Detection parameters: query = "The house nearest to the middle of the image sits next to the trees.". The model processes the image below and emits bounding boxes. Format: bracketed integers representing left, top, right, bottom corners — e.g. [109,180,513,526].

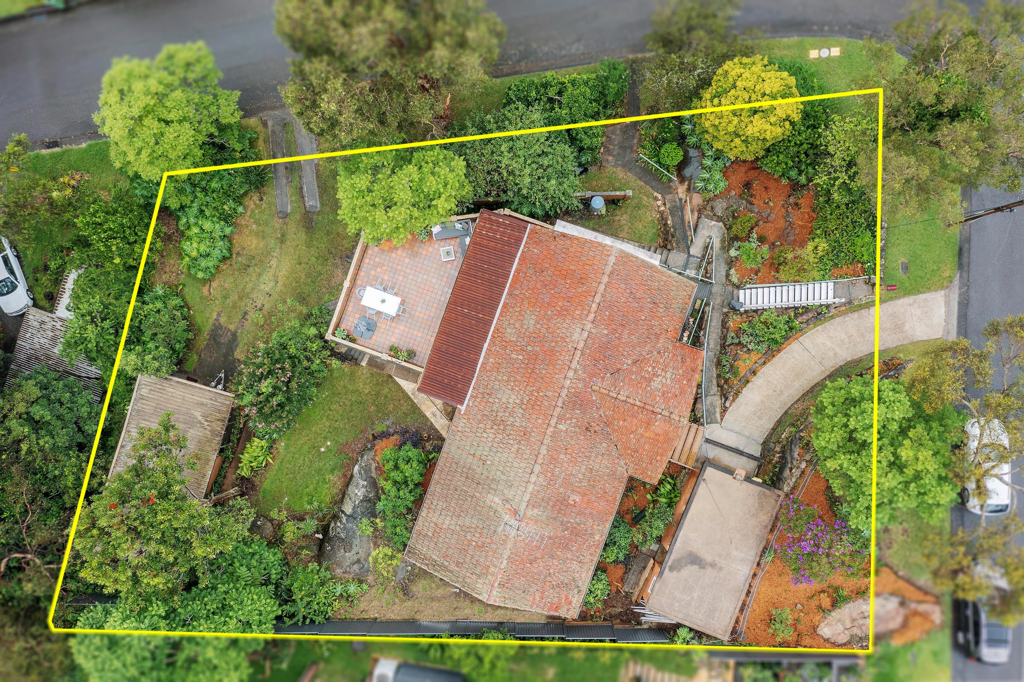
[402,208,706,621]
